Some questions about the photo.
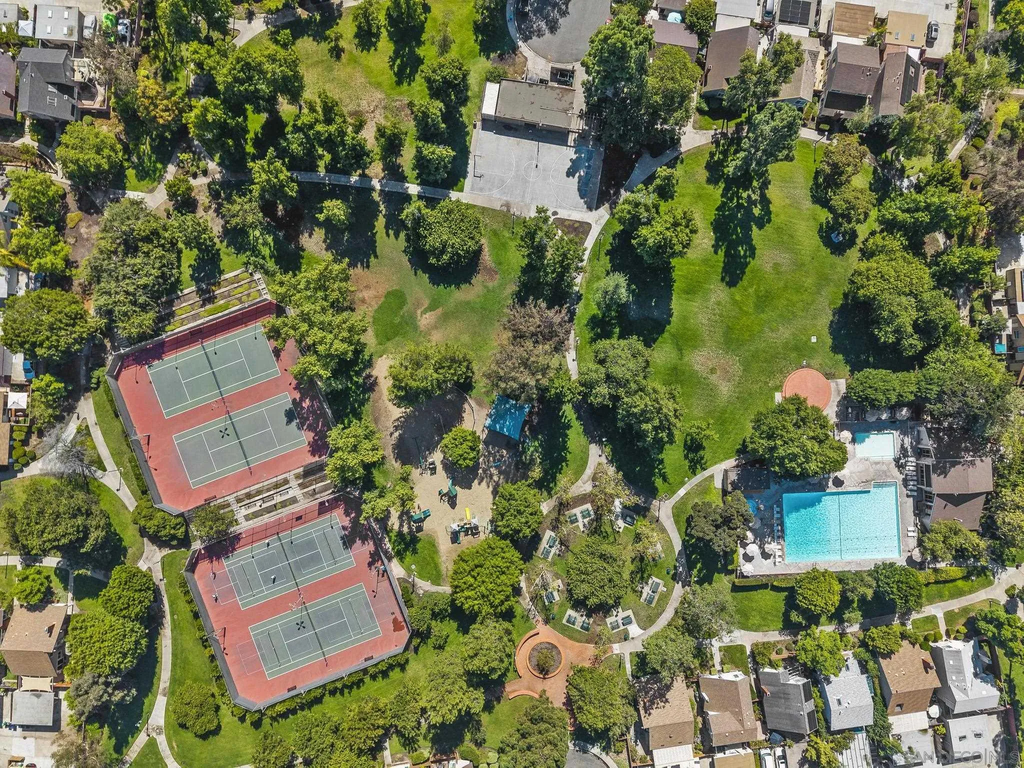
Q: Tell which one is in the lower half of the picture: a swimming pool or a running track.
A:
swimming pool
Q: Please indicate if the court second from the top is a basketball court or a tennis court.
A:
tennis court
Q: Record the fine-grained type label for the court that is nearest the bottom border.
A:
tennis court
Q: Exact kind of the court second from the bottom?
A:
tennis court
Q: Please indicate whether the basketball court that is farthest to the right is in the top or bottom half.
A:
top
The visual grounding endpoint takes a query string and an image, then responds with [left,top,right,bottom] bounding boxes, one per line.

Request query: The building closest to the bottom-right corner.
[939,710,992,760]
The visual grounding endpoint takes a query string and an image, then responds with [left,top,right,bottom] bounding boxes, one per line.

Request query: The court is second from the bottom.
[194,496,384,630]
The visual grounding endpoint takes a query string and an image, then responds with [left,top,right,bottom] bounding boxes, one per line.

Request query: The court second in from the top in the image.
[116,301,302,438]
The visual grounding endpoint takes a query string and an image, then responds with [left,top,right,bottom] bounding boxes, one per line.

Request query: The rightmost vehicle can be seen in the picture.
[927,17,941,41]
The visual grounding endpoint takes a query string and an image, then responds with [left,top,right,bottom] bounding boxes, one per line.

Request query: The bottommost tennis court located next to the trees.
[214,565,409,706]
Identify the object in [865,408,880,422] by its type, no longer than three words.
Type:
umbrella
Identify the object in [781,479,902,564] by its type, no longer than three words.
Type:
swimming pool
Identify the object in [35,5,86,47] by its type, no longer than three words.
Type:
building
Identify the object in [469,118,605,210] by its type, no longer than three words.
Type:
basketball court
